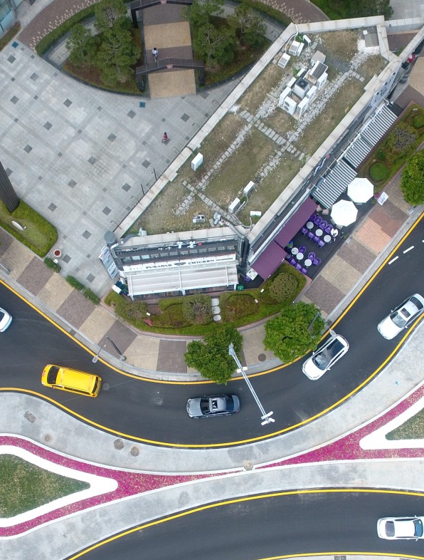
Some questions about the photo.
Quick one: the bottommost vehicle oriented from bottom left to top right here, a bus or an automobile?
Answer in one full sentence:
The bottommost vehicle oriented from bottom left to top right appears to be an automobile.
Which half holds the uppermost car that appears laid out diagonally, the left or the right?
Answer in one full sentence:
The uppermost car that appears laid out diagonally appears in the right half of the scene.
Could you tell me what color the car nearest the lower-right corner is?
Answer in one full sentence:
From above, the car nearest the lower-right corner appears white.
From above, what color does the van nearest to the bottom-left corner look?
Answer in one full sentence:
From above, the van nearest to the bottom-left corner appears yellow.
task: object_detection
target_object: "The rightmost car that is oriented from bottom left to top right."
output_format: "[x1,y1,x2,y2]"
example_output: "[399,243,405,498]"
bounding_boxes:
[375,291,424,342]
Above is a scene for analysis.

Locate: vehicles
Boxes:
[0,307,14,334]
[375,291,424,342]
[184,393,243,421]
[39,363,102,399]
[375,514,424,543]
[300,331,352,382]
